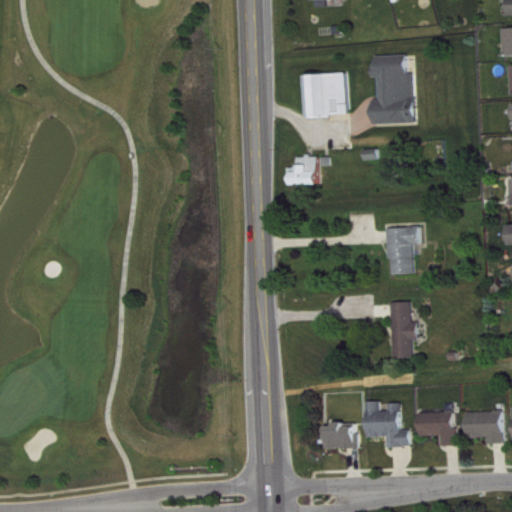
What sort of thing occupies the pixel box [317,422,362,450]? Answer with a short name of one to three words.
house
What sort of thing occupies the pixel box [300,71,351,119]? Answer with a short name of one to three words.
building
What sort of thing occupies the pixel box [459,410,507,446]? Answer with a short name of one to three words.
house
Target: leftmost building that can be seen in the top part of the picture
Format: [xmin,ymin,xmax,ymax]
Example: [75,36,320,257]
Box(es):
[282,154,322,187]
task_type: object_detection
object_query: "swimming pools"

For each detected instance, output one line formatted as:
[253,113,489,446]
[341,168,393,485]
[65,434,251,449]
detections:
[490,64,505,78]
